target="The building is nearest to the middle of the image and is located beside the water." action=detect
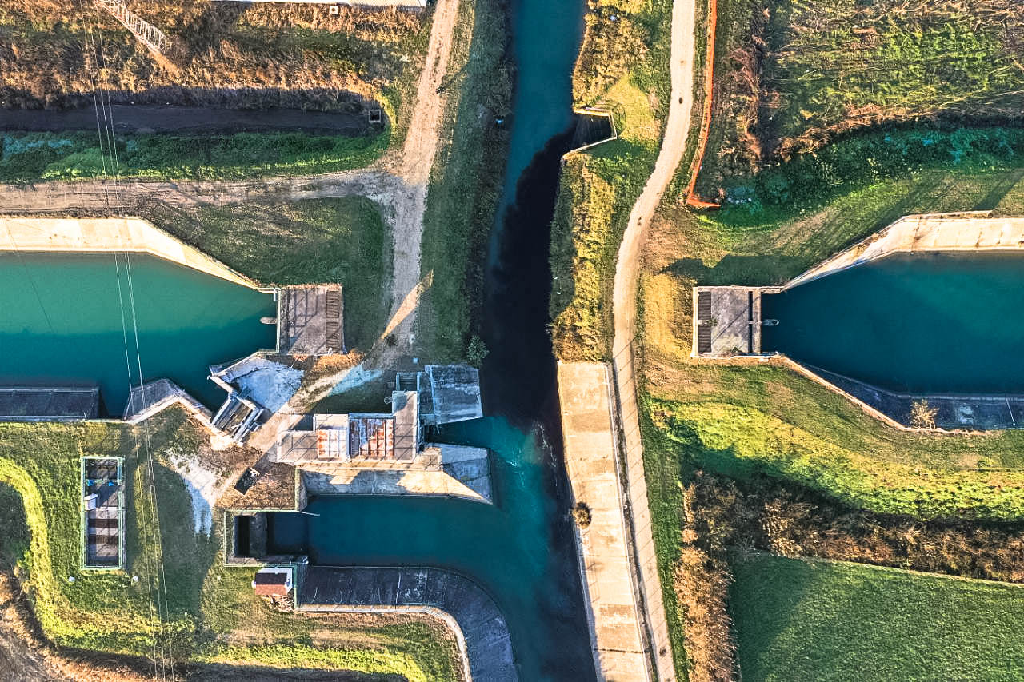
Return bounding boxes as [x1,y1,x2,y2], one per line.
[271,390,449,473]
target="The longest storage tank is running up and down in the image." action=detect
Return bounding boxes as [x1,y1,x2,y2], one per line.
[76,457,125,572]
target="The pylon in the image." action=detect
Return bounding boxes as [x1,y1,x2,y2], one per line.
[99,0,174,53]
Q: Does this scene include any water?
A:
Yes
